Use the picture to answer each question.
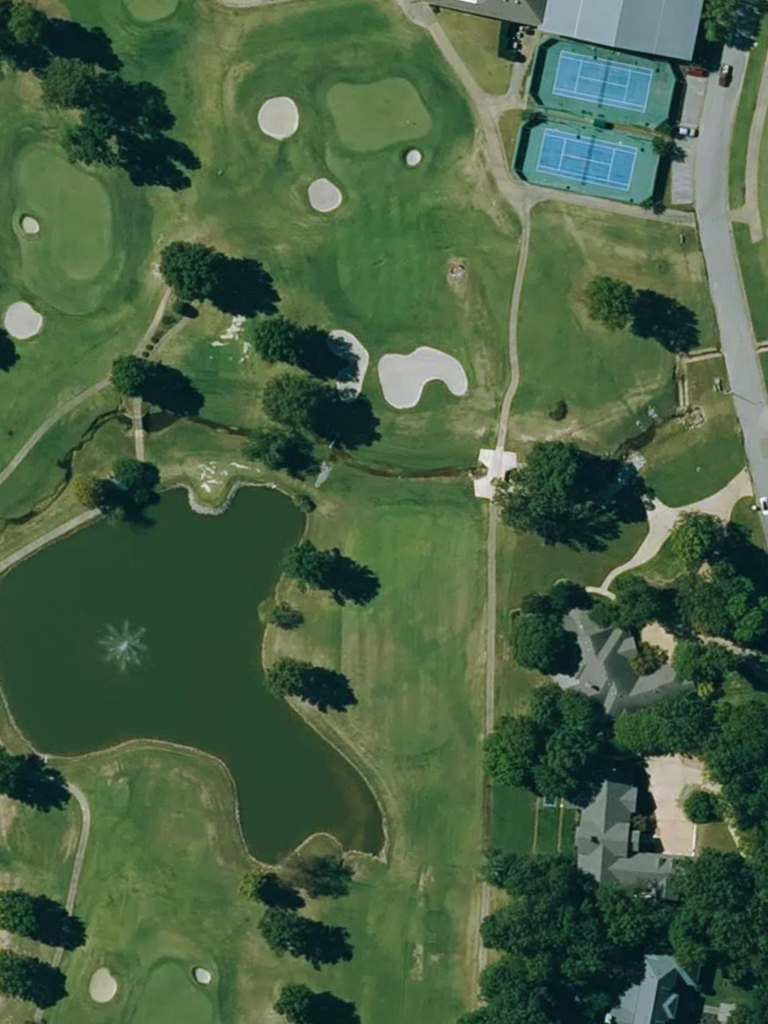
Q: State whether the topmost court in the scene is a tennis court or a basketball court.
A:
tennis court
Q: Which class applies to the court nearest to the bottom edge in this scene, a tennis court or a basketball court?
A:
tennis court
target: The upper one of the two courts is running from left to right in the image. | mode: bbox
[528,35,679,130]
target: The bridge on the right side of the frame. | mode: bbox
[474,448,513,500]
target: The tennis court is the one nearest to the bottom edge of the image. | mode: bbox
[512,117,661,205]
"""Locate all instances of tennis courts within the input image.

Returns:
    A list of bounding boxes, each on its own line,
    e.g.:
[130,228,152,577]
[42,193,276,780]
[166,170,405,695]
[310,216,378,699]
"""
[512,117,661,205]
[528,35,679,130]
